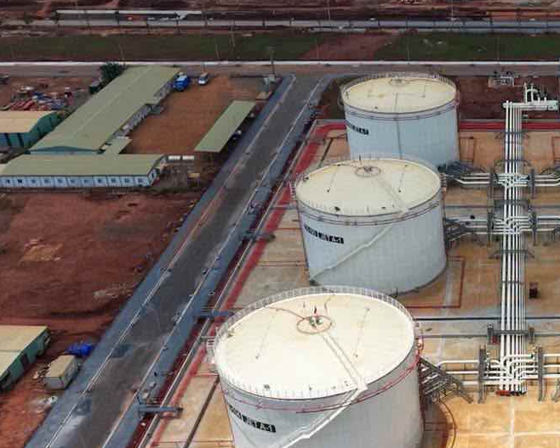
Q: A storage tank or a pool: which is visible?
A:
storage tank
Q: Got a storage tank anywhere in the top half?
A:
Yes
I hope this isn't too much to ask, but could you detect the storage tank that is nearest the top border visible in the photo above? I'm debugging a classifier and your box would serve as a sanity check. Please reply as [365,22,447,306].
[337,74,462,177]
